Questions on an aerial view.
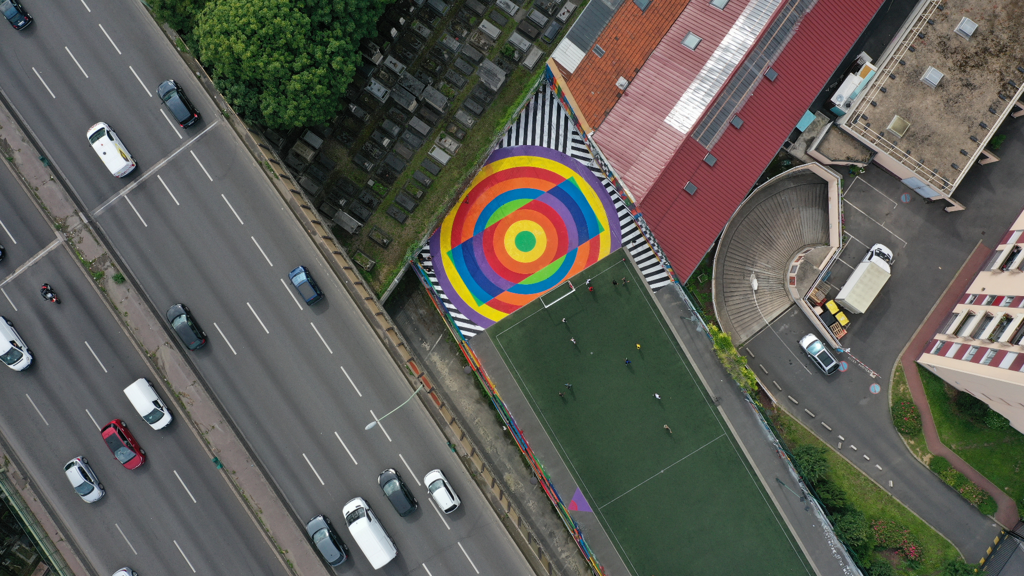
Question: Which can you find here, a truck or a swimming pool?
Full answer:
It is a truck that can be seen here.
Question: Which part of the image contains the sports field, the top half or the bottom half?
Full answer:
The sports field is in the bottom half of the image.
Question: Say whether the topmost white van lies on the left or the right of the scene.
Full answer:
The topmost white van sits on the left side.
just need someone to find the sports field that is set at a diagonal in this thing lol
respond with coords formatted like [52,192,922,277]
[486,249,813,576]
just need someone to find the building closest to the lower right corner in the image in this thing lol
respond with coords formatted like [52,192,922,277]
[917,209,1024,436]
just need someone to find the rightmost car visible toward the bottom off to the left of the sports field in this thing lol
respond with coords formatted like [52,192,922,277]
[426,467,464,518]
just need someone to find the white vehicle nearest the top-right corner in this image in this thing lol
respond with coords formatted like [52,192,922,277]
[835,241,898,317]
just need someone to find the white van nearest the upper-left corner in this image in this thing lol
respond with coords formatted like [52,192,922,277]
[87,117,138,176]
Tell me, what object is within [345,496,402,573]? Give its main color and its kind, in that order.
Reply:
white van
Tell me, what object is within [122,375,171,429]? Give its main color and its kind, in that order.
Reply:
white van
